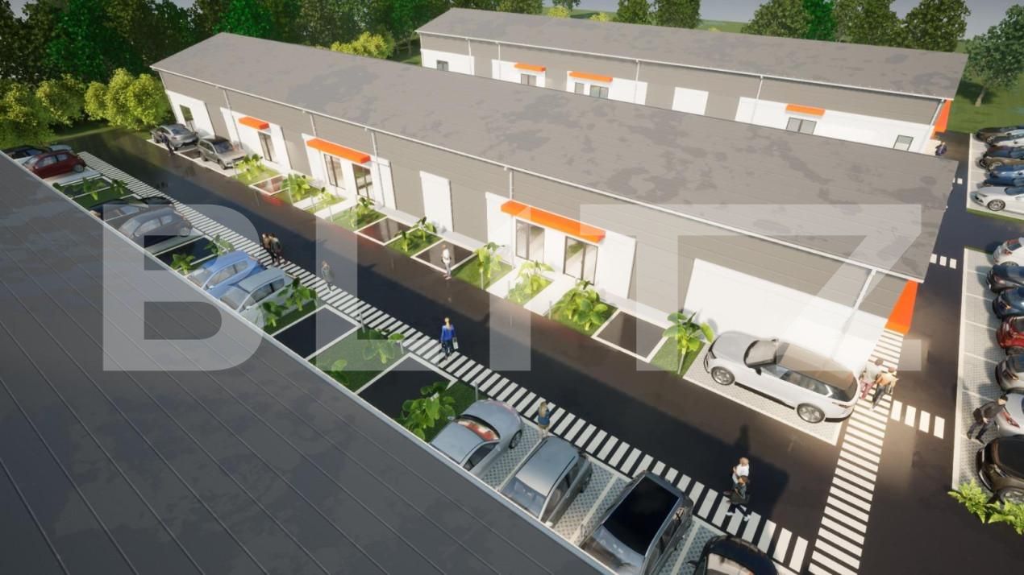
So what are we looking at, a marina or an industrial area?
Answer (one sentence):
What you see here is an industrial area.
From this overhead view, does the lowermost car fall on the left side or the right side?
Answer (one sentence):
The lowermost car is on the right side of the image.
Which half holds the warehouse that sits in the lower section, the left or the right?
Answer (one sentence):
The warehouse that sits in the lower section appears in the left half of the scene.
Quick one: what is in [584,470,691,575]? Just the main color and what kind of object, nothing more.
black car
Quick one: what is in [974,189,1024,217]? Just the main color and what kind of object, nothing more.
white car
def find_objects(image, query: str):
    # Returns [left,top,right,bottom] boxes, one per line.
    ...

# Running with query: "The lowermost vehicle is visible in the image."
[696,537,784,575]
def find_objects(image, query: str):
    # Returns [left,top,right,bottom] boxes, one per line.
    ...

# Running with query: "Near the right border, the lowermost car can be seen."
[978,434,1024,501]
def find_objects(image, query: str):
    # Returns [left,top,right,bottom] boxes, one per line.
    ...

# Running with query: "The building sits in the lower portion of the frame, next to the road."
[0,148,632,575]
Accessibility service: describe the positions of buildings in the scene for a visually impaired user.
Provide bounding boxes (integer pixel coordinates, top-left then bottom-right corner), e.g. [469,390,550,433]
[0,148,632,575]
[151,32,960,377]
